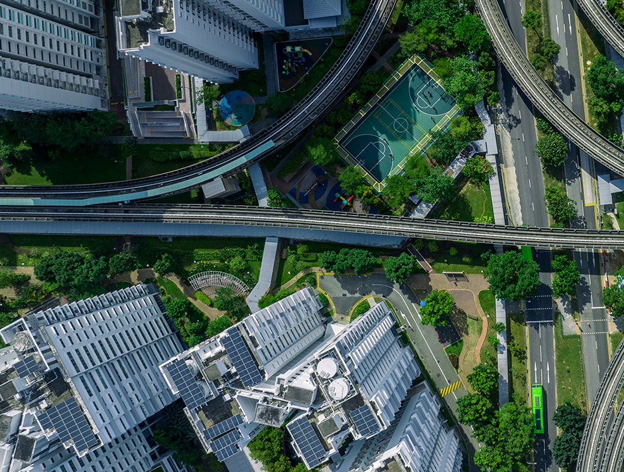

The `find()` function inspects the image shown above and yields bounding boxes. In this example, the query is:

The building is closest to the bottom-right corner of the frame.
[370,377,470,472]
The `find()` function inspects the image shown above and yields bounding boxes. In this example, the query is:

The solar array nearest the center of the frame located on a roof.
[222,328,263,387]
